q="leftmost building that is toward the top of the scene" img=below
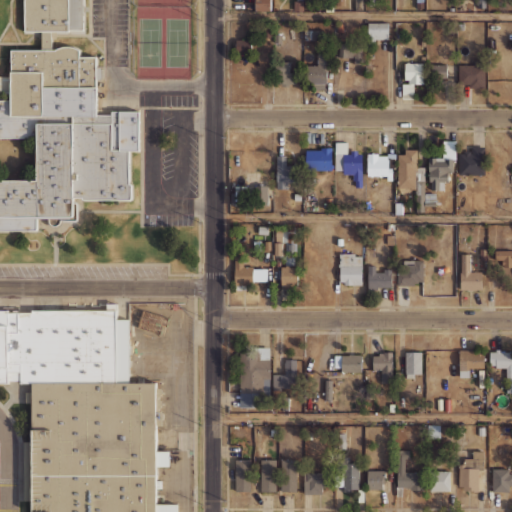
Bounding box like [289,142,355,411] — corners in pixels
[0,0,140,231]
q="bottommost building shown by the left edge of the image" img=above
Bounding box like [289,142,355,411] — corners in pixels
[0,304,178,512]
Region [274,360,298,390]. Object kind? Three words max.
house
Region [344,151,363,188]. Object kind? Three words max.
house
